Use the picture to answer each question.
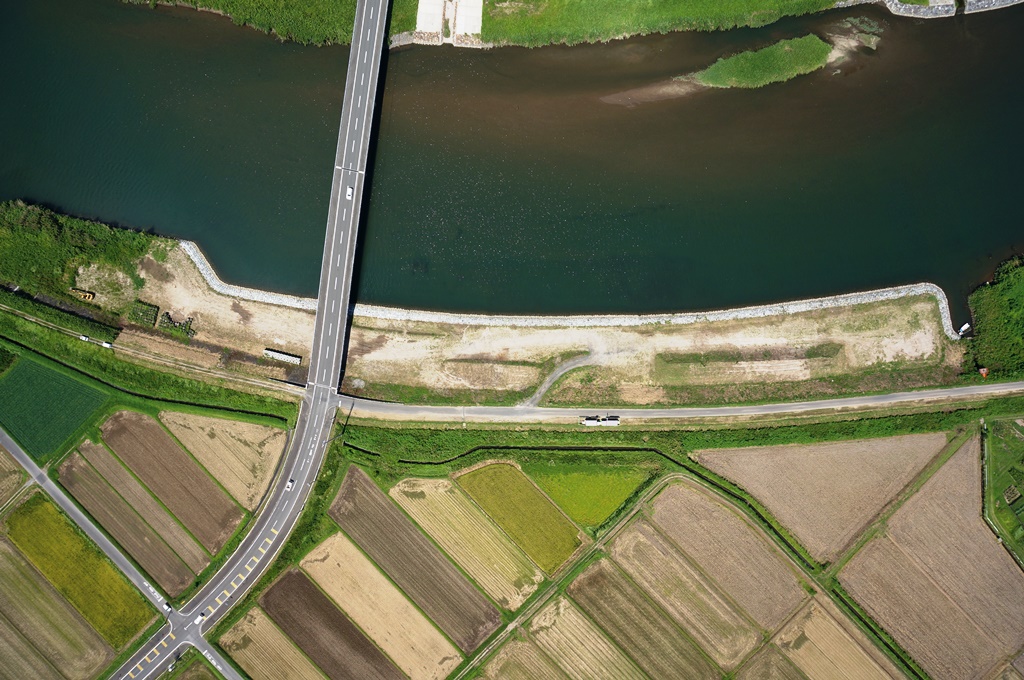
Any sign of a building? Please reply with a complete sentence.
No, there appears to be no building in this shot.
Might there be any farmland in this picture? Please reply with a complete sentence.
Yes, the picture does contain farmland.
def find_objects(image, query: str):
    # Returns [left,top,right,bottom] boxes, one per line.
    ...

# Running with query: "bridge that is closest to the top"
[305,0,390,394]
